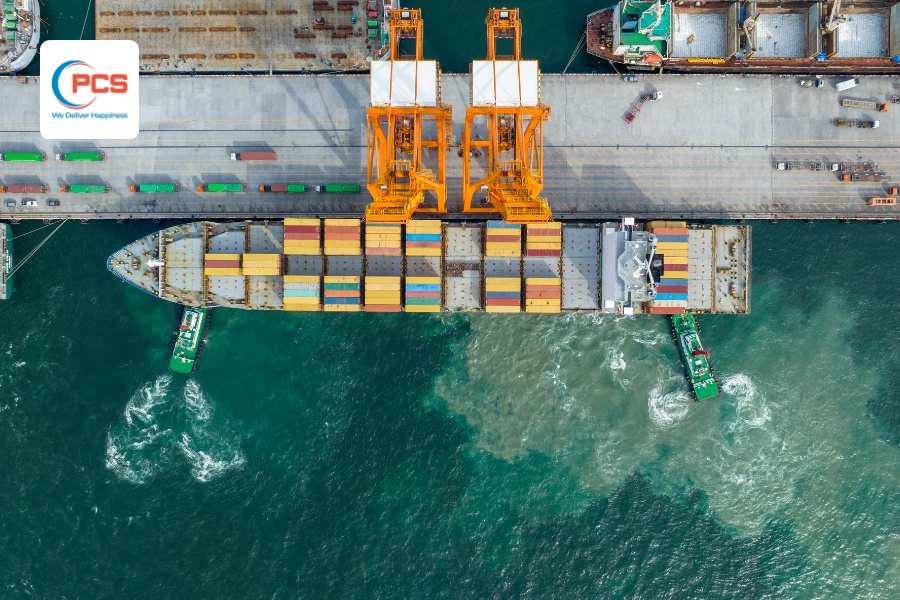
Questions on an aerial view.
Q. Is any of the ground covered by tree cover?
No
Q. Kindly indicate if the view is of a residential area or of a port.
port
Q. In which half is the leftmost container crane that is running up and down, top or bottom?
top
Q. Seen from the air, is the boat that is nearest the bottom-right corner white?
No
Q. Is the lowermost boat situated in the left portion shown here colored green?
Yes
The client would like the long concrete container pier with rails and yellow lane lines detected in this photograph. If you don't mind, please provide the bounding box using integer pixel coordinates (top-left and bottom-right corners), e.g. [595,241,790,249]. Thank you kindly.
[0,70,900,224]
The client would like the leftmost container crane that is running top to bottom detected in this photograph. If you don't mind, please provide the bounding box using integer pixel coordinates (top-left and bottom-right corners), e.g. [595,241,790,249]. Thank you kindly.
[364,2,454,227]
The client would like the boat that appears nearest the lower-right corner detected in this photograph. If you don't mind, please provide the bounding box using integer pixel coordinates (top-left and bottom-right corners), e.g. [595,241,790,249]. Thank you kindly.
[672,314,722,401]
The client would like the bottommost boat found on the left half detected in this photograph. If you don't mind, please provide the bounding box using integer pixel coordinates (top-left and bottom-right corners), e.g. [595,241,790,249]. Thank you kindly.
[168,304,209,377]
